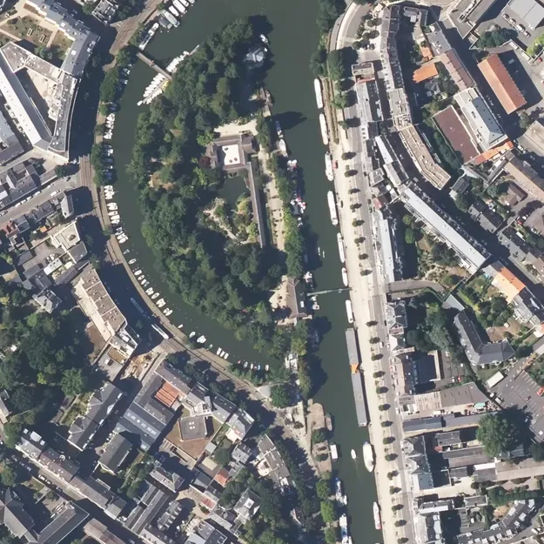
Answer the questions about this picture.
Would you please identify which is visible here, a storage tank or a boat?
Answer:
boat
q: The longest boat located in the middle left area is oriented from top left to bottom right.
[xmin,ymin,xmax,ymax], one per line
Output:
[115,271,146,309]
